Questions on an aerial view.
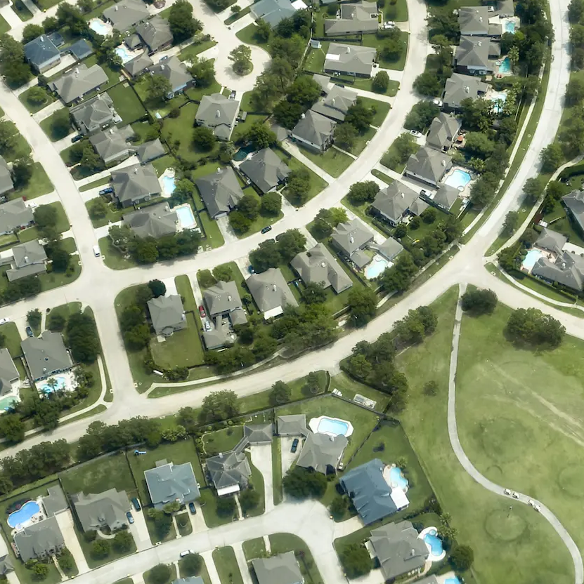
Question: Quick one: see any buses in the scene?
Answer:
No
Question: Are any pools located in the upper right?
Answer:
Yes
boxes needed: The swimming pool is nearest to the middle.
[364,255,392,280]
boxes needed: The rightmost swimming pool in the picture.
[523,246,554,271]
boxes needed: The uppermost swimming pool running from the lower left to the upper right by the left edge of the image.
[0,381,21,413]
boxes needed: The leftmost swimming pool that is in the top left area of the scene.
[91,18,114,37]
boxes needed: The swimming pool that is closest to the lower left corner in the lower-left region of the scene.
[5,497,47,532]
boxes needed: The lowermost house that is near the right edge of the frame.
[535,250,584,289]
